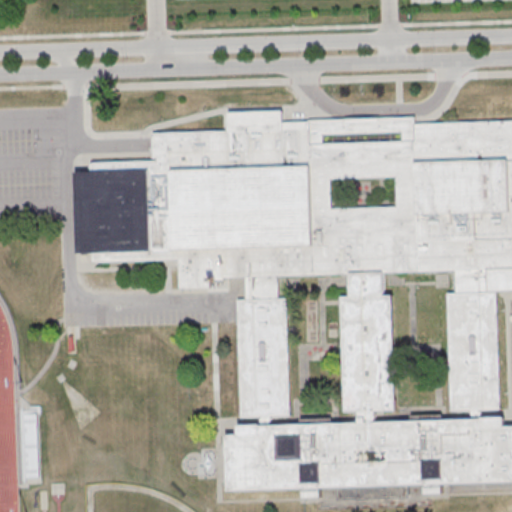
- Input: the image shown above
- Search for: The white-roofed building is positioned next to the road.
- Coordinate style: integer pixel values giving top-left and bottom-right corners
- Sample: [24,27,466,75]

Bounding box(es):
[74,110,512,498]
